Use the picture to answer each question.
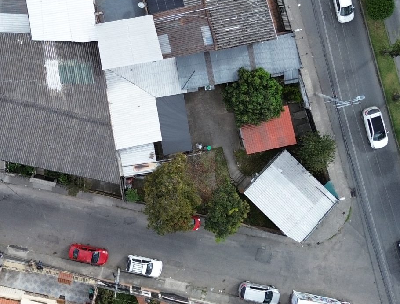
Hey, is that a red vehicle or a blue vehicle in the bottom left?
red vehicle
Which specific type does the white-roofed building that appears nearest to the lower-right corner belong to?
residential house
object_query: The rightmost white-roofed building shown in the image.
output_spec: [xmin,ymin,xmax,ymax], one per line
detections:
[244,150,340,242]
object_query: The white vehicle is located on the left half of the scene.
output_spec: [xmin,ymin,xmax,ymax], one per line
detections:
[120,251,167,279]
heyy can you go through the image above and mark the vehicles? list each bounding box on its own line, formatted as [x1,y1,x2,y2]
[235,280,282,304]
[332,0,355,29]
[65,242,111,268]
[179,211,207,232]
[120,251,167,279]
[358,102,389,153]
[279,287,348,304]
